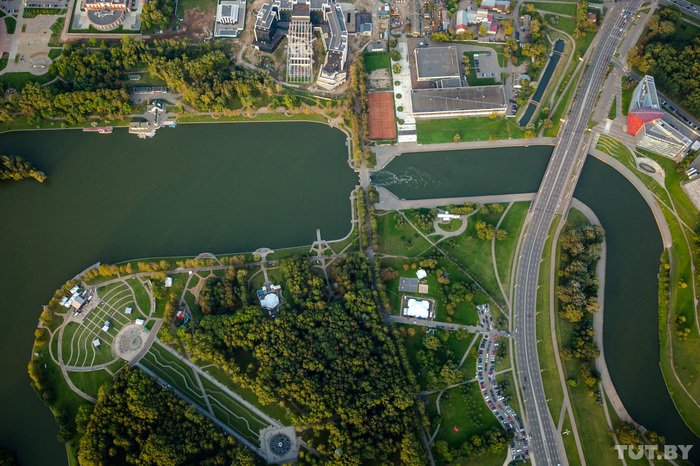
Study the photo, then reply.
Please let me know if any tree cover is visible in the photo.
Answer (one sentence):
Yes, tree cover can be seen from above here.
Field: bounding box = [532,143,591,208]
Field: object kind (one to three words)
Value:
bridge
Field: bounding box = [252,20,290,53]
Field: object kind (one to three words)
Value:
building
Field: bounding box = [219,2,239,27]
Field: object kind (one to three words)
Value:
house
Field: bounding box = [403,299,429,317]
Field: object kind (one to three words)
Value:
tent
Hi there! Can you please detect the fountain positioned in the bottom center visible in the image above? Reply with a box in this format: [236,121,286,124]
[269,433,291,456]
